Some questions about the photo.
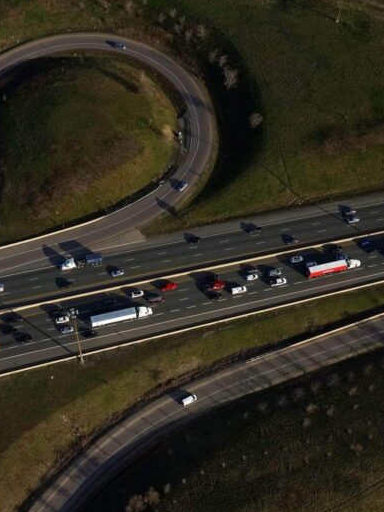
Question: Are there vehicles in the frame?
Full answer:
Yes, I can see a vehicle in this picture.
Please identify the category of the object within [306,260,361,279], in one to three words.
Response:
vehicle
